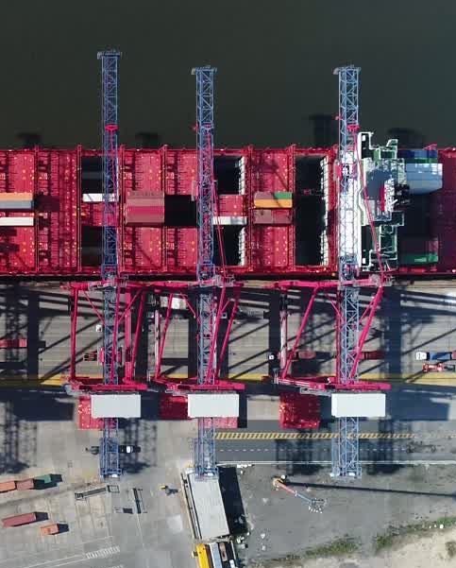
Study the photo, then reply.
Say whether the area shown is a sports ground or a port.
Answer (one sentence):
The picture captures a port.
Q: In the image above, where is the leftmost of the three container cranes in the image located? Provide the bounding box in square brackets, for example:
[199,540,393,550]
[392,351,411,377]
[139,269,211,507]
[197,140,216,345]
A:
[54,48,154,481]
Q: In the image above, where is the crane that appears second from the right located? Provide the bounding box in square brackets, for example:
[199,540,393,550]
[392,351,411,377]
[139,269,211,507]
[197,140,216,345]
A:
[141,65,252,481]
